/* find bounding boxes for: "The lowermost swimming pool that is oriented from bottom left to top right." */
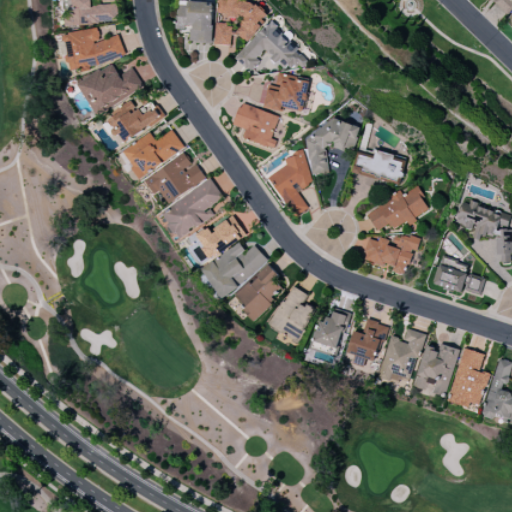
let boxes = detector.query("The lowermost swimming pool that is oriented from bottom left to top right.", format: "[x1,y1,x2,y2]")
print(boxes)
[262,151,290,174]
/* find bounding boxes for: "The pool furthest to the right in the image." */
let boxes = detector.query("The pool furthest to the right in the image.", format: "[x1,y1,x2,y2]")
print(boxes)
[469,184,496,200]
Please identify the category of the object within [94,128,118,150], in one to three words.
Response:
swimming pool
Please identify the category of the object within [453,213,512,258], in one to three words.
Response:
house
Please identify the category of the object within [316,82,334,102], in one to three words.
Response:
swimming pool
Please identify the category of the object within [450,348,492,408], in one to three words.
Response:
house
